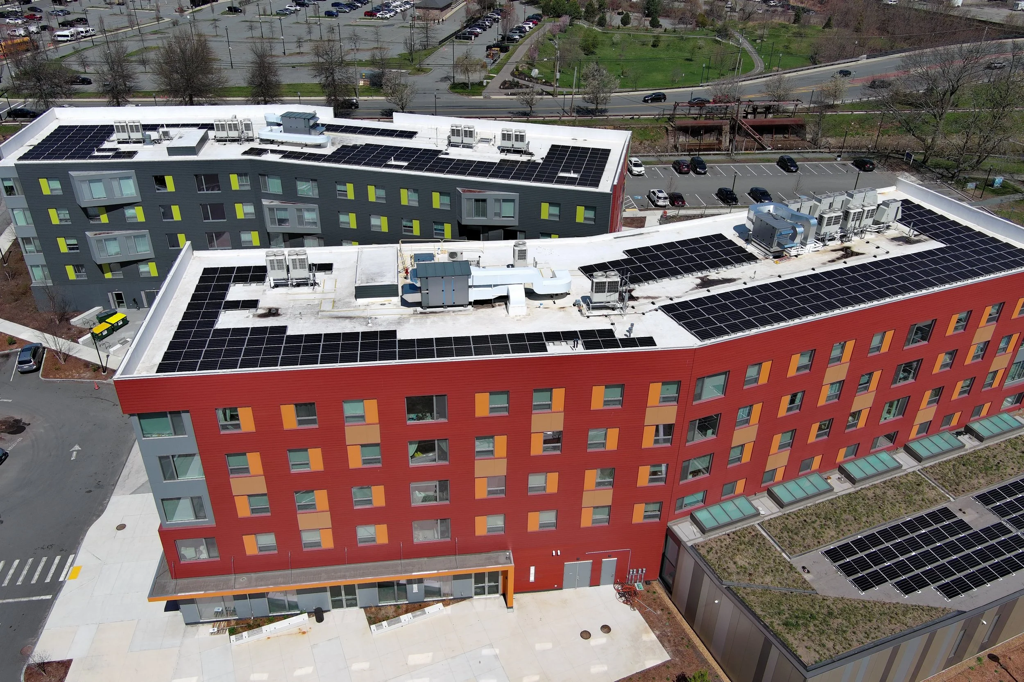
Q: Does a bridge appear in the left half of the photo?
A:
No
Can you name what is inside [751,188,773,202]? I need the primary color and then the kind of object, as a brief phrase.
black car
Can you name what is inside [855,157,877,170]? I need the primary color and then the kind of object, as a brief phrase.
black vehicle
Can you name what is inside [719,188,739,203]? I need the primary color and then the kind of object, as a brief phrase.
black car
